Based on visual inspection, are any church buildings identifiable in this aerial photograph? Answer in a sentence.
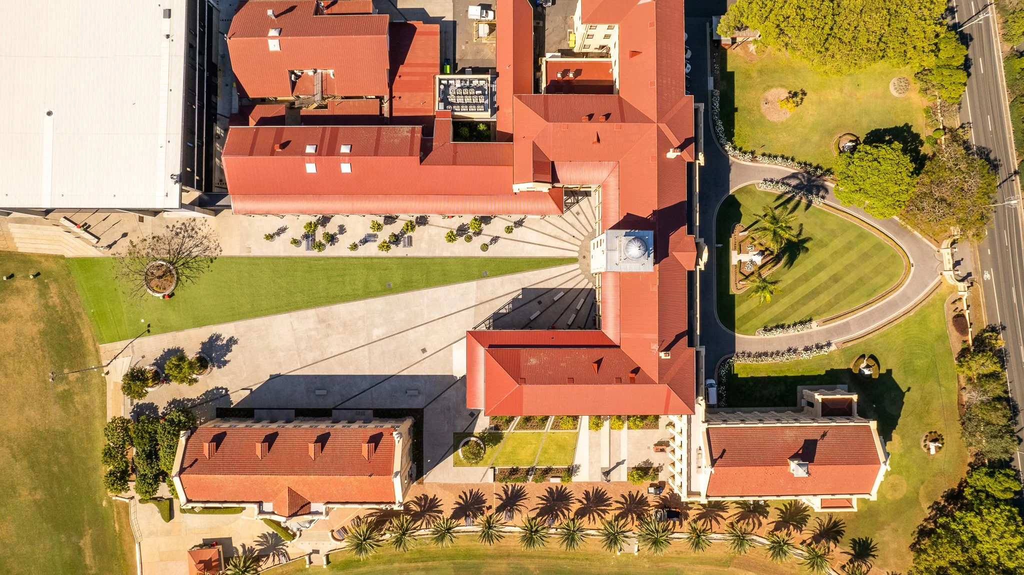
Yes, there's a church building down there.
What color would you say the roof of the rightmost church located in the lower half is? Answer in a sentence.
From above, the roof of the rightmost church located in the lower half looks red.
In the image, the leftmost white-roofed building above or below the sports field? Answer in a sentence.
As seen from overhead, the leftmost white-roofed building falls above the sports field in the picture.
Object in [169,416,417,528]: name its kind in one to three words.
building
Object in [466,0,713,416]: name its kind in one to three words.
building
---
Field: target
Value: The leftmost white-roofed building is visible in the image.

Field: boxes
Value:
[0,0,217,218]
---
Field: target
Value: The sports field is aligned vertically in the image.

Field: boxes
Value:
[0,250,135,575]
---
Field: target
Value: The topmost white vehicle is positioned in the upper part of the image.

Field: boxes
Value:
[467,5,494,20]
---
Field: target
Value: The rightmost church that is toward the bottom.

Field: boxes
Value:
[696,385,895,513]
